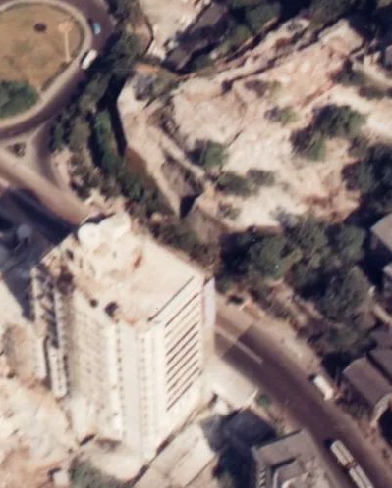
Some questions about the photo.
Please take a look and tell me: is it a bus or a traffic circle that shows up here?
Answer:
bus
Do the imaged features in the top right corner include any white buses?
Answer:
No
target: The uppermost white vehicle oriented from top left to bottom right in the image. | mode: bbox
[315,377,332,397]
